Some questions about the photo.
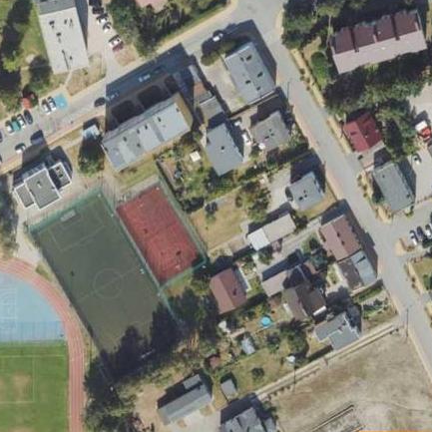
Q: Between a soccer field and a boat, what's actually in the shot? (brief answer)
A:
soccer field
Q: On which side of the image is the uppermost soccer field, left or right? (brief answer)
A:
left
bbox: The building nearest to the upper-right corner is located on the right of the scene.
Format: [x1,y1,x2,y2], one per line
[331,6,427,73]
